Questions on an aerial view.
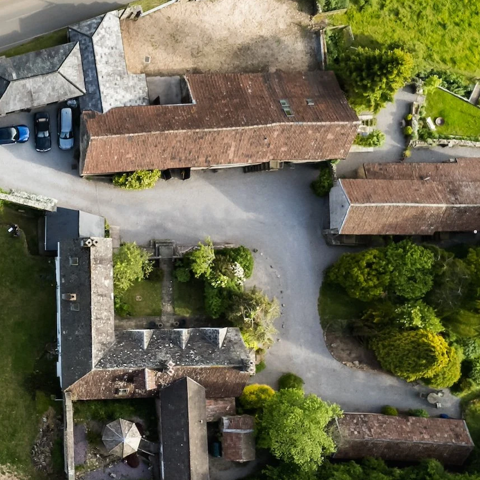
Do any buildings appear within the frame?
Yes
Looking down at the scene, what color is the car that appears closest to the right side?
blue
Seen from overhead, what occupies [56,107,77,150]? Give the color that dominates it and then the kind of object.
blue car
